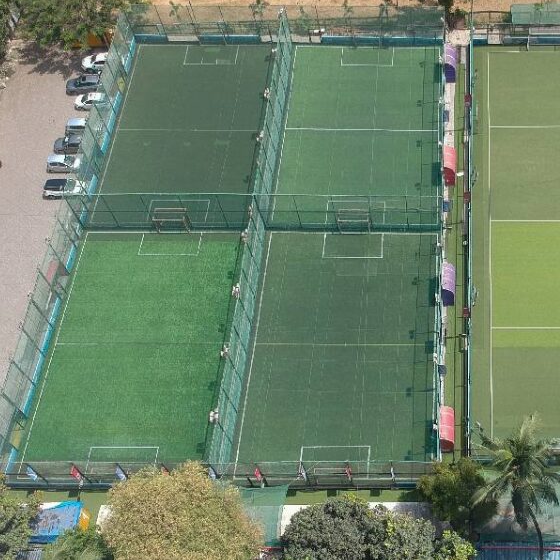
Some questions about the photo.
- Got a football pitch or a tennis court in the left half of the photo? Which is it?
football pitch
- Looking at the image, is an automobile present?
Yes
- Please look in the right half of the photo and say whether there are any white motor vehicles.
No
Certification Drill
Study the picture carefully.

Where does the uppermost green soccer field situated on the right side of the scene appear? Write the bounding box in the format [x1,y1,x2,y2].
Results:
[266,41,442,230]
